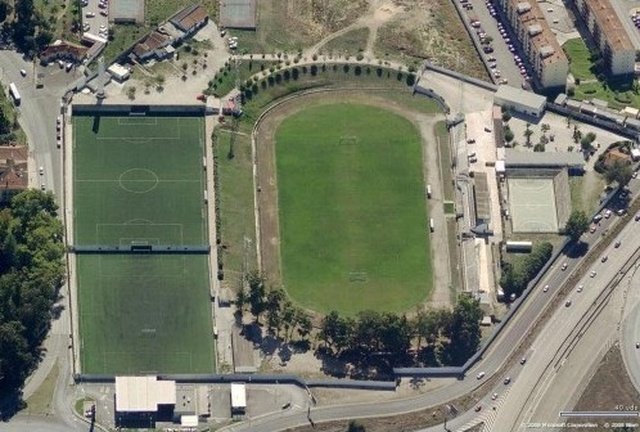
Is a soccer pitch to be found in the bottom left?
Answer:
Yes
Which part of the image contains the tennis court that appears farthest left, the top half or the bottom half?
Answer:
top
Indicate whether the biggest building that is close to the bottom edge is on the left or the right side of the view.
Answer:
left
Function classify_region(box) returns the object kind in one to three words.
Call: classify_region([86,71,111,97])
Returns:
building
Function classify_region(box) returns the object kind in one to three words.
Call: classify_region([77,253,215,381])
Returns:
soccer field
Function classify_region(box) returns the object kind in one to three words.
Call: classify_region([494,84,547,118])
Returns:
building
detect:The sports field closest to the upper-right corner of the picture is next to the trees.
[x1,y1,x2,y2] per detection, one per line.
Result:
[275,103,433,321]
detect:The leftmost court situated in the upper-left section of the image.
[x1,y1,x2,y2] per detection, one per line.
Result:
[109,0,145,23]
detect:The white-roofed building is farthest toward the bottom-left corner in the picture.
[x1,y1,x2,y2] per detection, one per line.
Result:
[116,376,175,419]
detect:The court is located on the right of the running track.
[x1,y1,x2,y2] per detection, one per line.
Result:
[508,179,559,233]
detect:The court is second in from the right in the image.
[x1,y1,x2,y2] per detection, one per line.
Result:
[220,0,256,29]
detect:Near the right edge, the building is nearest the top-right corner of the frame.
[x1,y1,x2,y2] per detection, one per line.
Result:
[571,0,634,77]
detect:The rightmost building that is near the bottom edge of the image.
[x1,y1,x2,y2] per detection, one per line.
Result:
[231,383,246,413]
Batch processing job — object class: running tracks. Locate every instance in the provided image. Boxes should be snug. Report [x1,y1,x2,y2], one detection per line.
[253,90,453,336]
